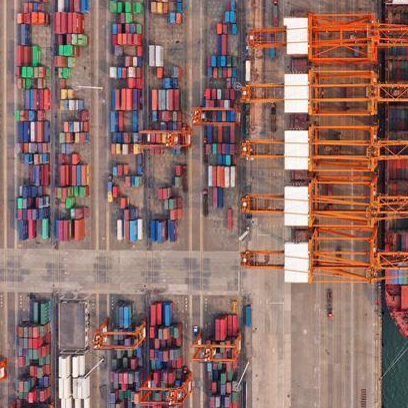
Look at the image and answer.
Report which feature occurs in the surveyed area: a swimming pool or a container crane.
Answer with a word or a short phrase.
container crane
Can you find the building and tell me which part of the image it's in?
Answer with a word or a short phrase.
bottom left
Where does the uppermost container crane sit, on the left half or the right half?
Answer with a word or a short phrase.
right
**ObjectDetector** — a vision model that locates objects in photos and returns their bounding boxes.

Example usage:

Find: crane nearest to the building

[93,317,150,350]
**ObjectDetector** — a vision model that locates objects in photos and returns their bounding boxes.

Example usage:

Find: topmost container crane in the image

[248,12,408,67]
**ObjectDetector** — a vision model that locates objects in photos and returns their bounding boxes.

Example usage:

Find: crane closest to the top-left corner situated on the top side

[140,126,193,150]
